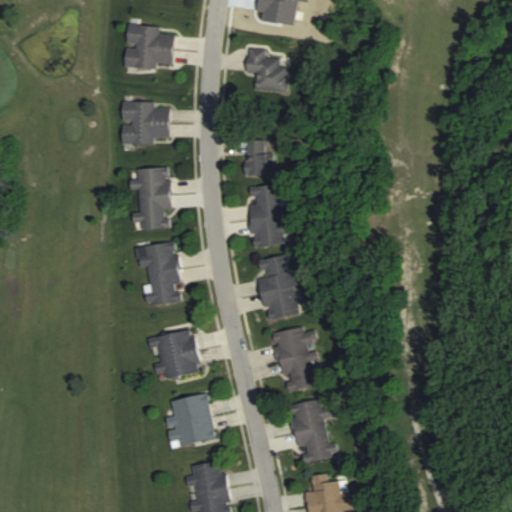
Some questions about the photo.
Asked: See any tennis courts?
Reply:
No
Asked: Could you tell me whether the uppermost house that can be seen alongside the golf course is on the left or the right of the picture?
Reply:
left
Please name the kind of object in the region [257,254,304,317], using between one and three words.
house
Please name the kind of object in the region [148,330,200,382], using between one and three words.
house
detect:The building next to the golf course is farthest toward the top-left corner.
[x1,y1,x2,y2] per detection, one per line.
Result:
[124,18,176,72]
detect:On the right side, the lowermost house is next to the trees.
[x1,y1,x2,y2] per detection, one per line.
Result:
[304,474,353,512]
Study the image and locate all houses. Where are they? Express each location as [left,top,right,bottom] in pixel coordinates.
[247,186,288,248]
[148,330,200,382]
[244,48,290,94]
[290,398,338,460]
[134,240,184,306]
[185,461,230,512]
[240,139,276,178]
[166,394,215,450]
[252,0,304,26]
[120,96,172,151]
[272,328,320,392]
[257,254,304,317]
[130,166,173,230]
[124,18,176,72]
[304,474,353,512]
